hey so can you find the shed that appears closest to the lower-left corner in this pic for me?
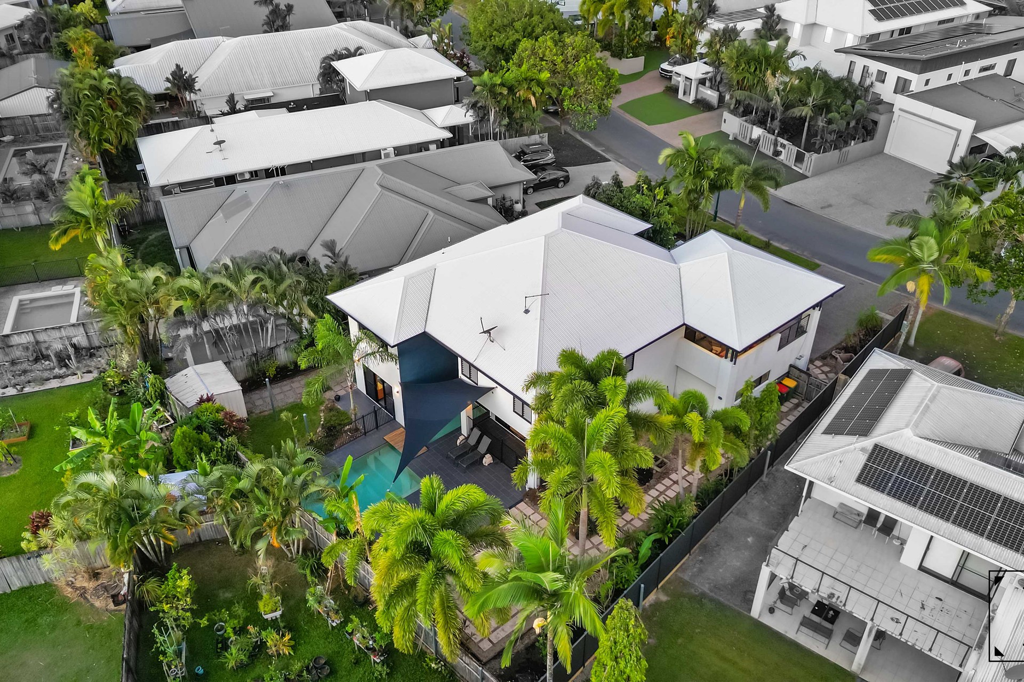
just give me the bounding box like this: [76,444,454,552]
[168,359,246,427]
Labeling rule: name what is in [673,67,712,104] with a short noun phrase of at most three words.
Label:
building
